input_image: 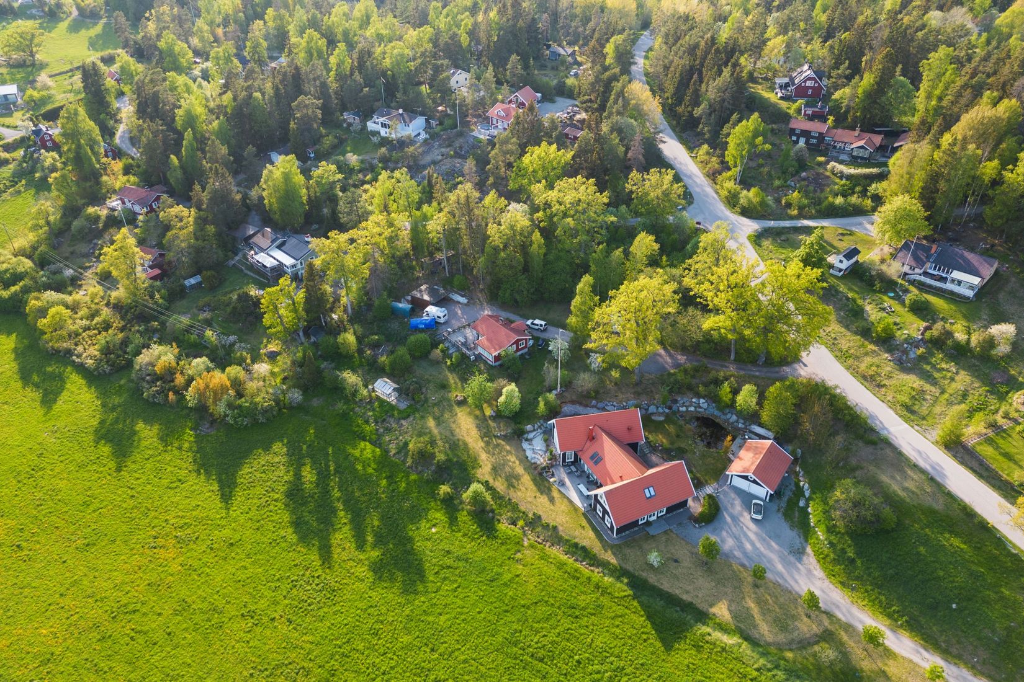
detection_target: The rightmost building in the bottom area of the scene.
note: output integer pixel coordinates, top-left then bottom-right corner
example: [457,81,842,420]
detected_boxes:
[724,440,796,506]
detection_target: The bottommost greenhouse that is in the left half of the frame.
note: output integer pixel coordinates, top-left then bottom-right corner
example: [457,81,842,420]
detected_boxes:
[377,379,407,403]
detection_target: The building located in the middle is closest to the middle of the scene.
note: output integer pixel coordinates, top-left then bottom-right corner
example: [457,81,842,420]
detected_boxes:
[442,314,541,370]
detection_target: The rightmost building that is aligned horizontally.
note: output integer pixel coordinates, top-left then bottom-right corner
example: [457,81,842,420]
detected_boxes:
[897,239,998,297]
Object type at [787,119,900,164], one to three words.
house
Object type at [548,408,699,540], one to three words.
house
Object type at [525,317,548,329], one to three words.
vehicle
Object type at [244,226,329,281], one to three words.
building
